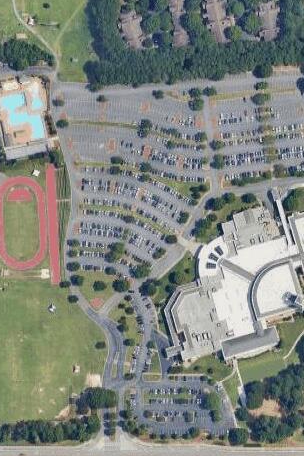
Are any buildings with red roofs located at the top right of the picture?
No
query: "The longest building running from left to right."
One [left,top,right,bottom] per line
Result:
[3,143,49,159]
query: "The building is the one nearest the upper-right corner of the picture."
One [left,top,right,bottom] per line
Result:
[255,0,281,42]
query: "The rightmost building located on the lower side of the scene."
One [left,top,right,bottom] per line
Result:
[164,207,304,363]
